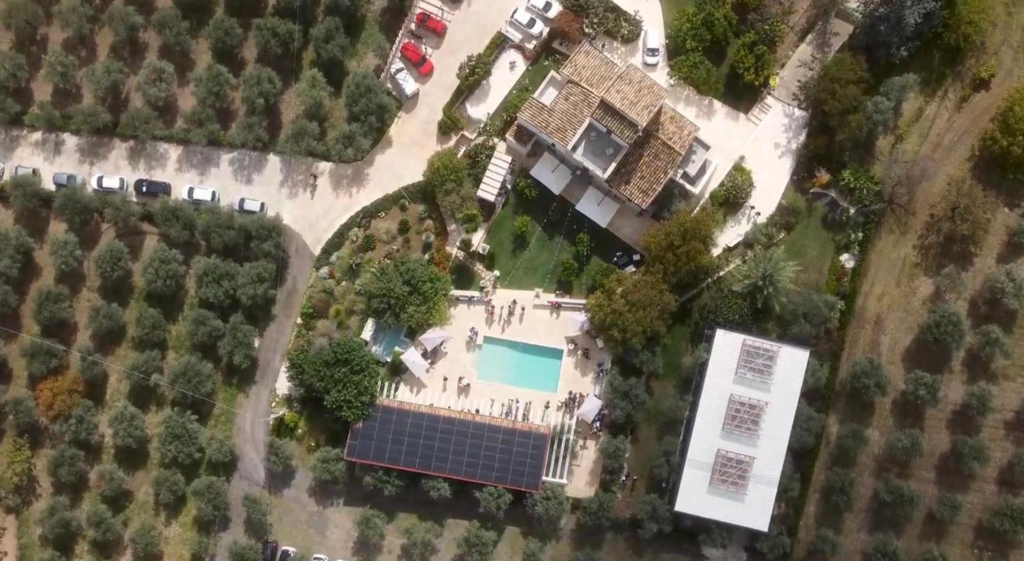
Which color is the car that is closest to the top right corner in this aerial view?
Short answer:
white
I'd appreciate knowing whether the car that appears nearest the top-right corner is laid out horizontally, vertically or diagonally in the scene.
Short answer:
vertically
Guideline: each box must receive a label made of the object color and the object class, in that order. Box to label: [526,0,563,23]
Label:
white car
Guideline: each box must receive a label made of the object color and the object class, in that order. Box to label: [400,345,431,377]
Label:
white umbrella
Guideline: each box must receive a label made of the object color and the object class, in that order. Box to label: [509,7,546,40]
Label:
white car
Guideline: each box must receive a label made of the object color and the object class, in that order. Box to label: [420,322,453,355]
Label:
white umbrella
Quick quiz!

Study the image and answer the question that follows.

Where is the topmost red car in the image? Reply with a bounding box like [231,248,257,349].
[414,11,449,38]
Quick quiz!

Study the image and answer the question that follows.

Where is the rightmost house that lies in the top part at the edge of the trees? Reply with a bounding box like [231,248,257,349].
[506,40,721,212]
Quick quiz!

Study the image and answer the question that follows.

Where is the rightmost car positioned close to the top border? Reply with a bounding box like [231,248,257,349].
[642,27,662,67]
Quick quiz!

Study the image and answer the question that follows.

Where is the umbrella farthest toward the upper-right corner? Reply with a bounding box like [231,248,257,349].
[575,185,619,228]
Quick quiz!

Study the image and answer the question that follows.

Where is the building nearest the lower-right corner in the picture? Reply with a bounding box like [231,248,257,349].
[667,328,810,531]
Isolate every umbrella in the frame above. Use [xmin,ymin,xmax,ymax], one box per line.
[575,185,619,228]
[564,312,591,336]
[575,392,604,425]
[420,322,453,355]
[529,151,572,195]
[400,345,431,377]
